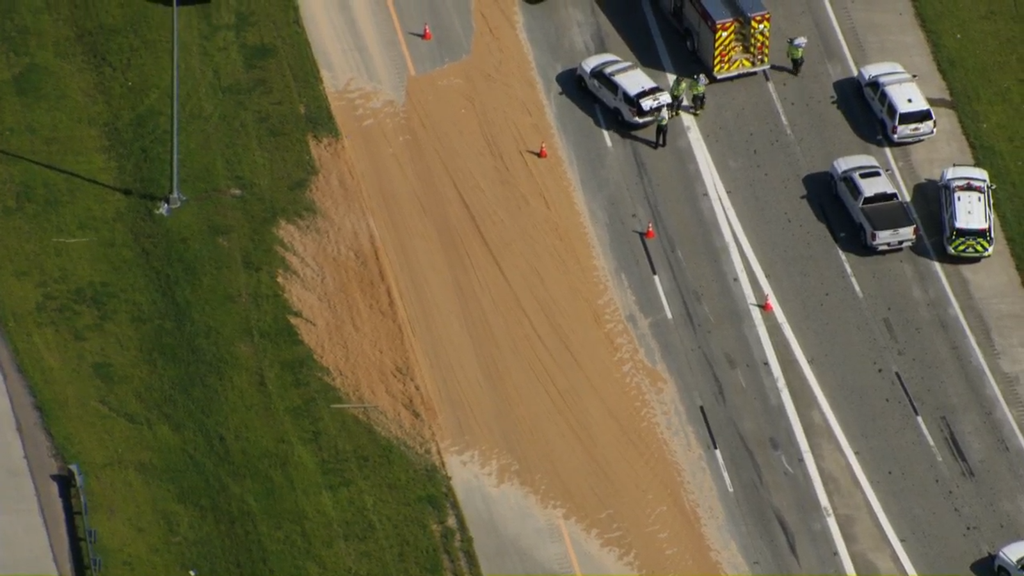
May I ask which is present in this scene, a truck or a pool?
truck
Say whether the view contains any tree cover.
No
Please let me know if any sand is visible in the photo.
Yes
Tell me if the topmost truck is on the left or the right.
right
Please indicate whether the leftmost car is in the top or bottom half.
top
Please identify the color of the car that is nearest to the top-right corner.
white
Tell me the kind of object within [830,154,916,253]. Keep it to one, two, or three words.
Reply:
truck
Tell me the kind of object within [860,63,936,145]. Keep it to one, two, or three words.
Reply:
car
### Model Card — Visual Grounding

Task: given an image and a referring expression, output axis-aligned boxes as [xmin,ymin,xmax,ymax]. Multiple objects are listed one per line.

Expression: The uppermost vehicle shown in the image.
[664,0,769,78]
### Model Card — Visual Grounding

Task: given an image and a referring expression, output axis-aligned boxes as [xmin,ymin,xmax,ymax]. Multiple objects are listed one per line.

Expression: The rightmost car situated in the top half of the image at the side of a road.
[939,166,999,257]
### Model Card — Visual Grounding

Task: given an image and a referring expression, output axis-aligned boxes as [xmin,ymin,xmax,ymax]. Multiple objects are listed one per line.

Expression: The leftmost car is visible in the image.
[577,49,675,126]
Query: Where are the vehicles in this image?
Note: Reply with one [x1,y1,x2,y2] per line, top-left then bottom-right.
[830,154,916,253]
[577,49,675,126]
[939,166,999,257]
[664,0,769,78]
[860,63,936,145]
[996,543,1024,576]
